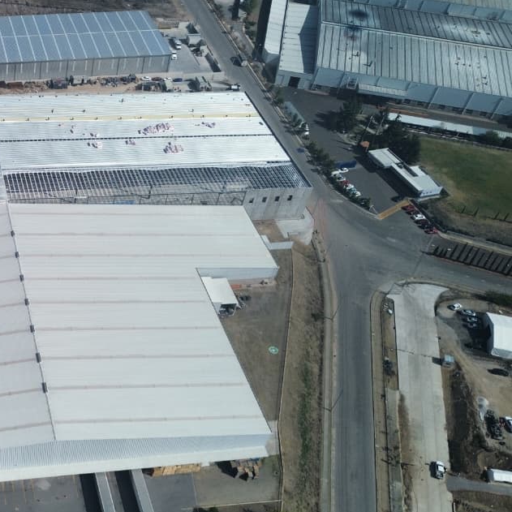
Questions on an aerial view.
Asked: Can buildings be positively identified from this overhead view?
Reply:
Yes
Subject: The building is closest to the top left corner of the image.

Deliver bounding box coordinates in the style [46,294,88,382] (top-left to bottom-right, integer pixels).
[0,10,169,80]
